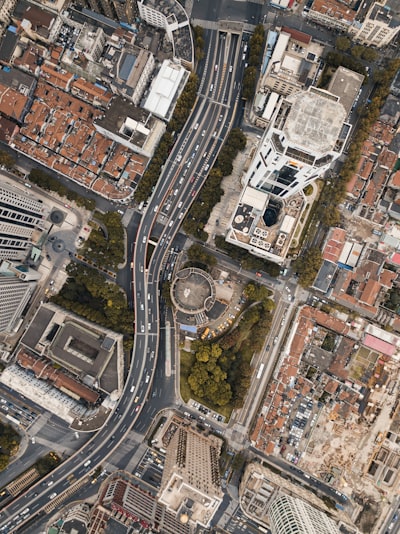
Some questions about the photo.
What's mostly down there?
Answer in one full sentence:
Most of the picture is covered by buildings.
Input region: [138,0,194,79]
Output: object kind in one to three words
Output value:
building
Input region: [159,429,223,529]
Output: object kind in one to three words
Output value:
building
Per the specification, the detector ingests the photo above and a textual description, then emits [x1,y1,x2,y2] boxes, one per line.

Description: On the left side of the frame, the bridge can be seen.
[0,30,235,534]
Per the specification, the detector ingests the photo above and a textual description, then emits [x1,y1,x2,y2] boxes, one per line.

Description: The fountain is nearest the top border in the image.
[46,206,67,227]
